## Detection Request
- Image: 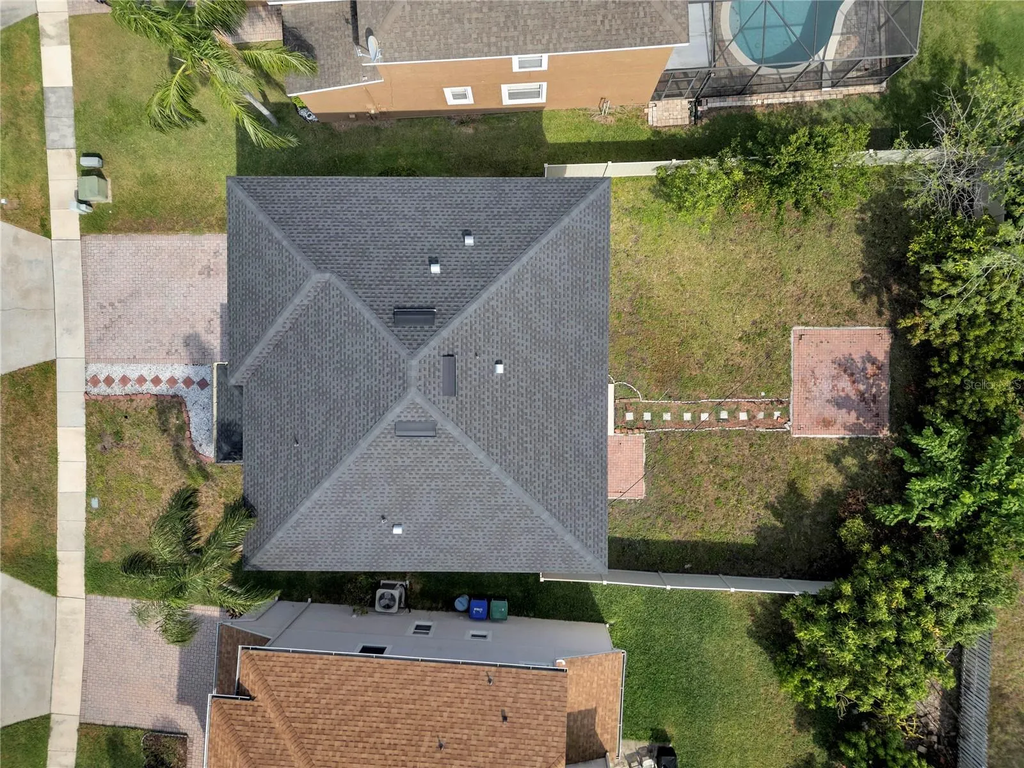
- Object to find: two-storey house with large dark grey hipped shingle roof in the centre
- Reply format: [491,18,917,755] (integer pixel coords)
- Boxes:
[210,177,609,572]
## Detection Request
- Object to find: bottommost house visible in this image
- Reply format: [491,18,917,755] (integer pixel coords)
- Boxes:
[198,593,621,768]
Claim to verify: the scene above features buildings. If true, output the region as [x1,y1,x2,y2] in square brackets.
[266,0,713,122]
[210,177,609,572]
[198,593,621,768]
